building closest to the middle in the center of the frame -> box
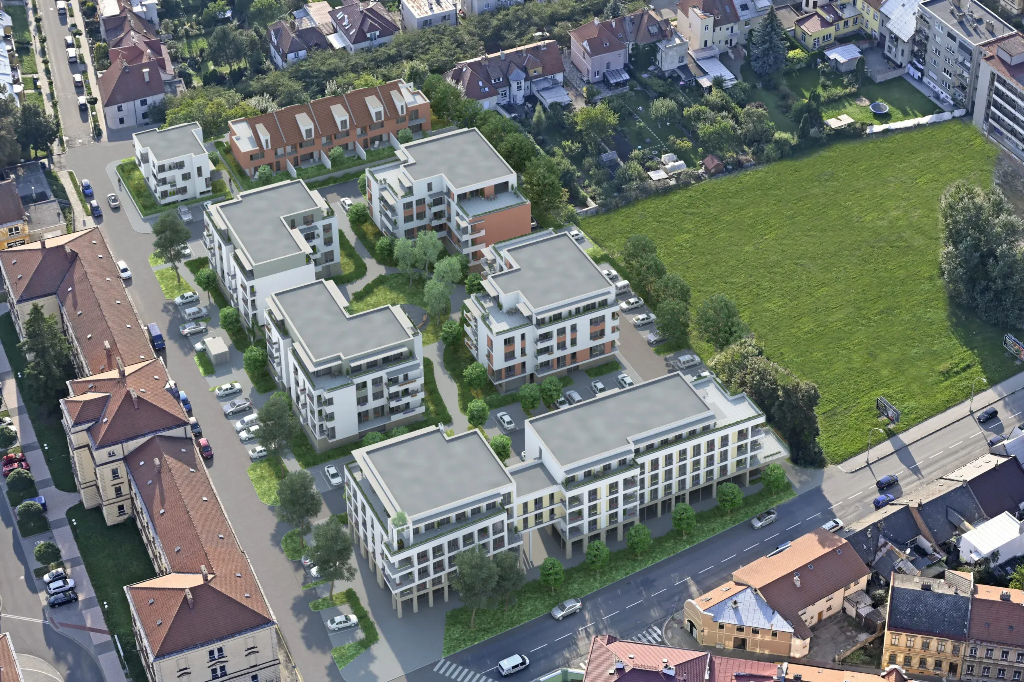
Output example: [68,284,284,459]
[459,227,624,394]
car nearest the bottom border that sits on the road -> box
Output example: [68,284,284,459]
[496,653,532,676]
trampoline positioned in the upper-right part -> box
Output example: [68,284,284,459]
[869,99,891,111]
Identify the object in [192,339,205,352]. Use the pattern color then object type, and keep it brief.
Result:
white vehicle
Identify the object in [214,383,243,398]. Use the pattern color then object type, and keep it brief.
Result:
white car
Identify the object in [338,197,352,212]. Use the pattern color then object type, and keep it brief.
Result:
white car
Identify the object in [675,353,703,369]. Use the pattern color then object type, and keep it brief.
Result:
gray car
